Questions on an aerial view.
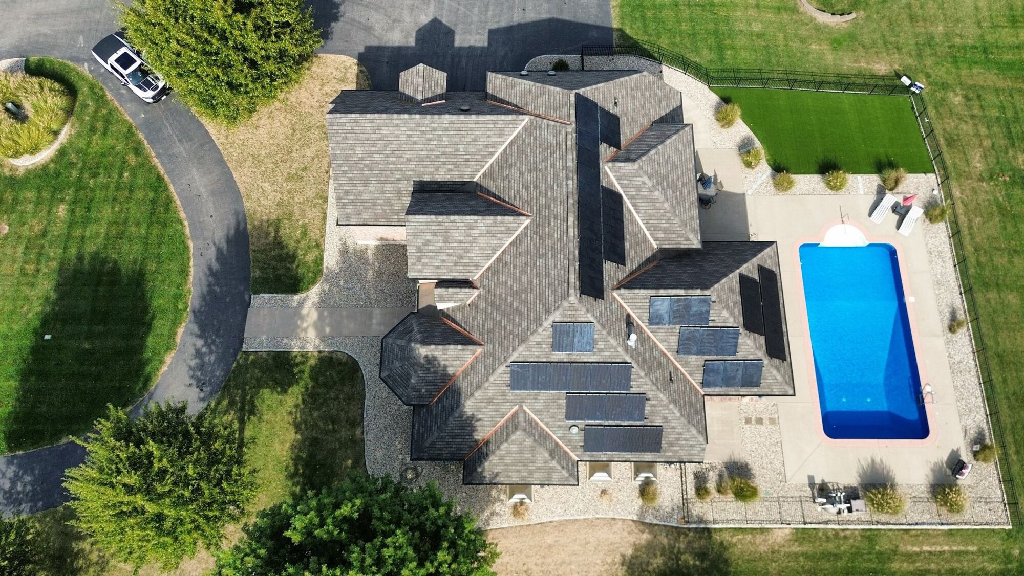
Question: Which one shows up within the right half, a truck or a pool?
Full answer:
There is a pool within the right half.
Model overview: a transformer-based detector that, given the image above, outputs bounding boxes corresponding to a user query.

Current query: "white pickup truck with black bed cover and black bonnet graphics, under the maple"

[93,36,174,108]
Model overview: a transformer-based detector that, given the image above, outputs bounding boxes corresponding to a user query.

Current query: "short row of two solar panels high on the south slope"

[547,323,599,354]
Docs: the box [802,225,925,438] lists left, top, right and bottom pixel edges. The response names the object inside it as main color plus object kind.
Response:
blue swimming pool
